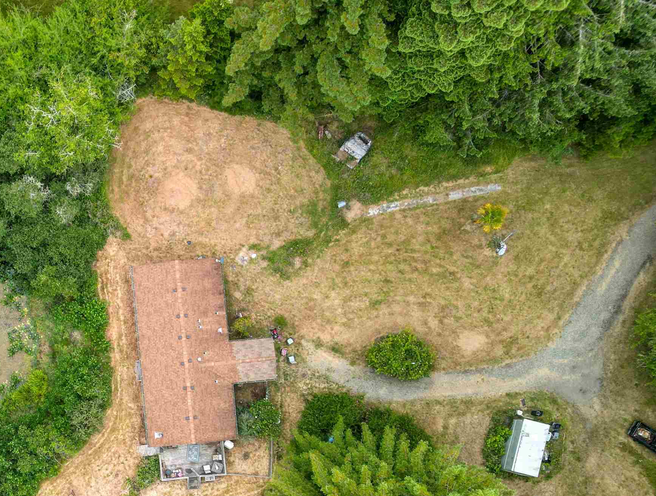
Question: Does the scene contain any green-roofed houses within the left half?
No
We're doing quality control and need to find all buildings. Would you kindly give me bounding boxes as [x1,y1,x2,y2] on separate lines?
[130,257,276,450]
[495,418,550,477]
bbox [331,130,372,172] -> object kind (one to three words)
trailer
